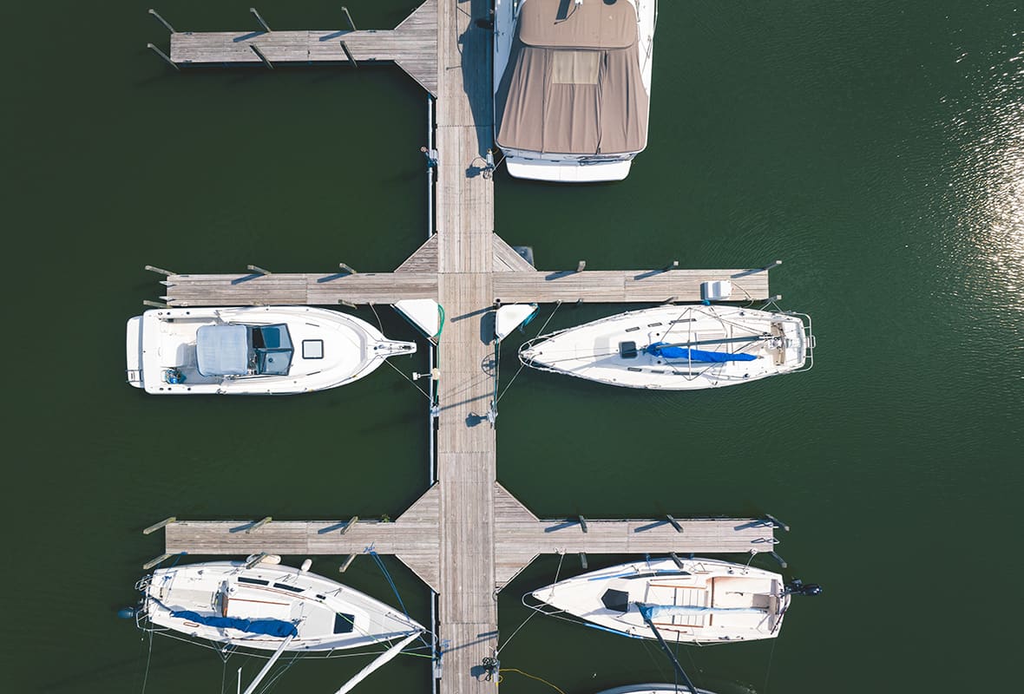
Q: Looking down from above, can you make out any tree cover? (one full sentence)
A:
No, the picture contains no tree cover.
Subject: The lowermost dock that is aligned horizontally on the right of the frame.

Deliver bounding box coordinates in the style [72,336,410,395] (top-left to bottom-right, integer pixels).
[496,482,774,592]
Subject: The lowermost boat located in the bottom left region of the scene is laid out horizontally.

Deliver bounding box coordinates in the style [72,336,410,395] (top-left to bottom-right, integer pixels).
[116,560,436,694]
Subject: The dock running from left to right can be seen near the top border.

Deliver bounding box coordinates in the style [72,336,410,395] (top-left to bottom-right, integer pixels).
[171,0,437,98]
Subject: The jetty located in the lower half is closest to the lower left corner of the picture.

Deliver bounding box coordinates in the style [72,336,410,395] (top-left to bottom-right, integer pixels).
[165,483,441,592]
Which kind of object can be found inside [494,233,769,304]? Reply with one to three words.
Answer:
pier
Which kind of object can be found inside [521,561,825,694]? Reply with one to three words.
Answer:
boat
